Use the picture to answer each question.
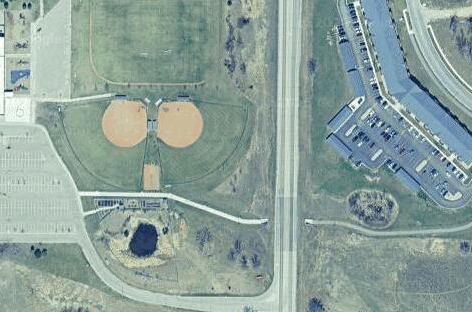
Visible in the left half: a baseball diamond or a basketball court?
baseball diamond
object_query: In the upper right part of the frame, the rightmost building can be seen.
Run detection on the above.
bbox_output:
[359,0,472,170]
